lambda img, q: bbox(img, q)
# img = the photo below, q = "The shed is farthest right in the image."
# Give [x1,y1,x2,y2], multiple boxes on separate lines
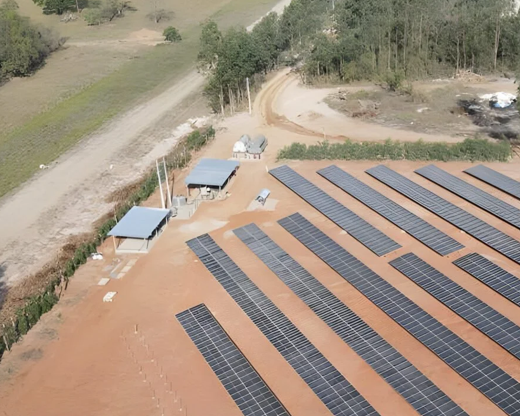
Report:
[185,158,240,197]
